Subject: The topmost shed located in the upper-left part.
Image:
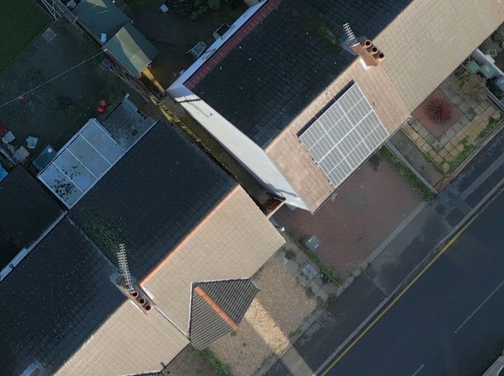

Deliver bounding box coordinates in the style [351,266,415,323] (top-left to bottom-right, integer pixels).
[72,0,130,43]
